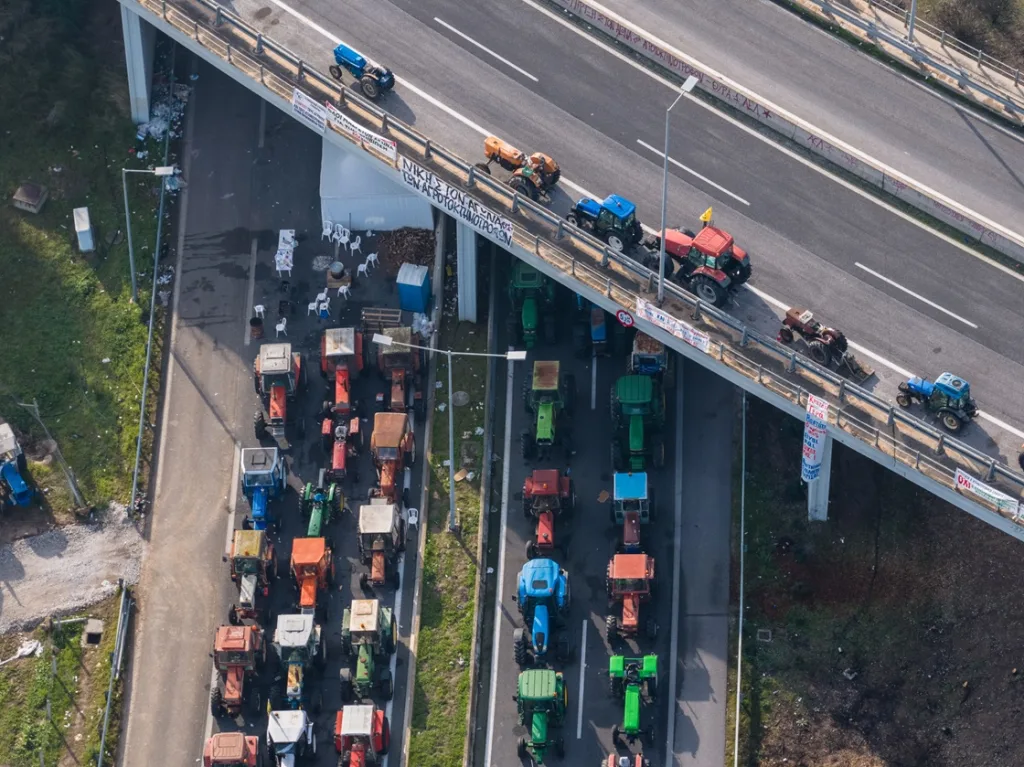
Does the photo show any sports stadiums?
No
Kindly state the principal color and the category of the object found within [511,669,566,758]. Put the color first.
green work vehicle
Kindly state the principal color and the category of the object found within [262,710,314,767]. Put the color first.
white work vehicle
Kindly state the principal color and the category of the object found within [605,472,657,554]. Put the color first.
blue work vehicle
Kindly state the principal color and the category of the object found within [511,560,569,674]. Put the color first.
blue work vehicle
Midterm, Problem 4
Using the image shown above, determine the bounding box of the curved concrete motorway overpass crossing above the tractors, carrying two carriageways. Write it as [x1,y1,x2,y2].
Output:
[116,0,1024,544]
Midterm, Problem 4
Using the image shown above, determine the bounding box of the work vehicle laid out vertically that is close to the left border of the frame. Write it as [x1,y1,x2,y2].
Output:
[0,422,39,513]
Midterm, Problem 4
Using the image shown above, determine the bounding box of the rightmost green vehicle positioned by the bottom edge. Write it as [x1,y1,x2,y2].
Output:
[610,656,657,747]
